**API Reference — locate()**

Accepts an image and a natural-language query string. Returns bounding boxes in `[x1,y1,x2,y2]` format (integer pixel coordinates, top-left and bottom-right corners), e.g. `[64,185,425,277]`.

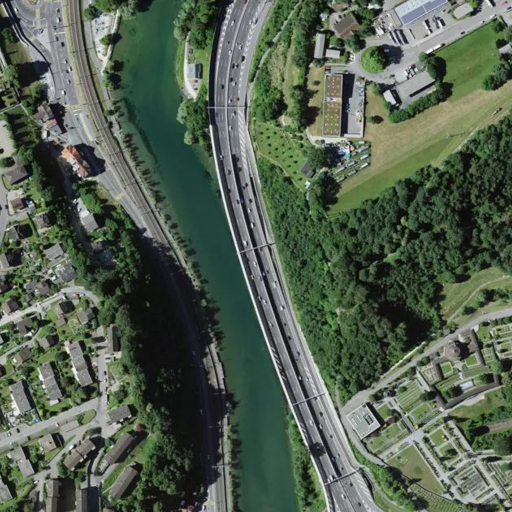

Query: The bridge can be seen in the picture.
[209,0,354,512]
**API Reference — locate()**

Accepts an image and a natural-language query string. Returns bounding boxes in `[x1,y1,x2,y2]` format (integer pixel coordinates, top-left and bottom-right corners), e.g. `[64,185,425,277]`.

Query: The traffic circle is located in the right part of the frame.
[354,39,396,82]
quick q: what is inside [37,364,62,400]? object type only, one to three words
building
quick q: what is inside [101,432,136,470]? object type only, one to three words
house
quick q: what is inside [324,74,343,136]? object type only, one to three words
building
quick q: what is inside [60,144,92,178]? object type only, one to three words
house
